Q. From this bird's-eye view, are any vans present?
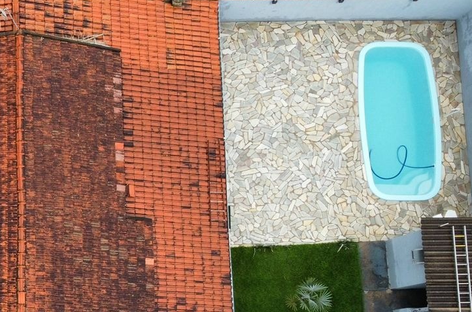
No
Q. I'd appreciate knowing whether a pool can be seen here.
Yes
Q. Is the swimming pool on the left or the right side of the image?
right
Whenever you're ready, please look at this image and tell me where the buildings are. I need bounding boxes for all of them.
[0,0,237,312]
[387,217,472,312]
